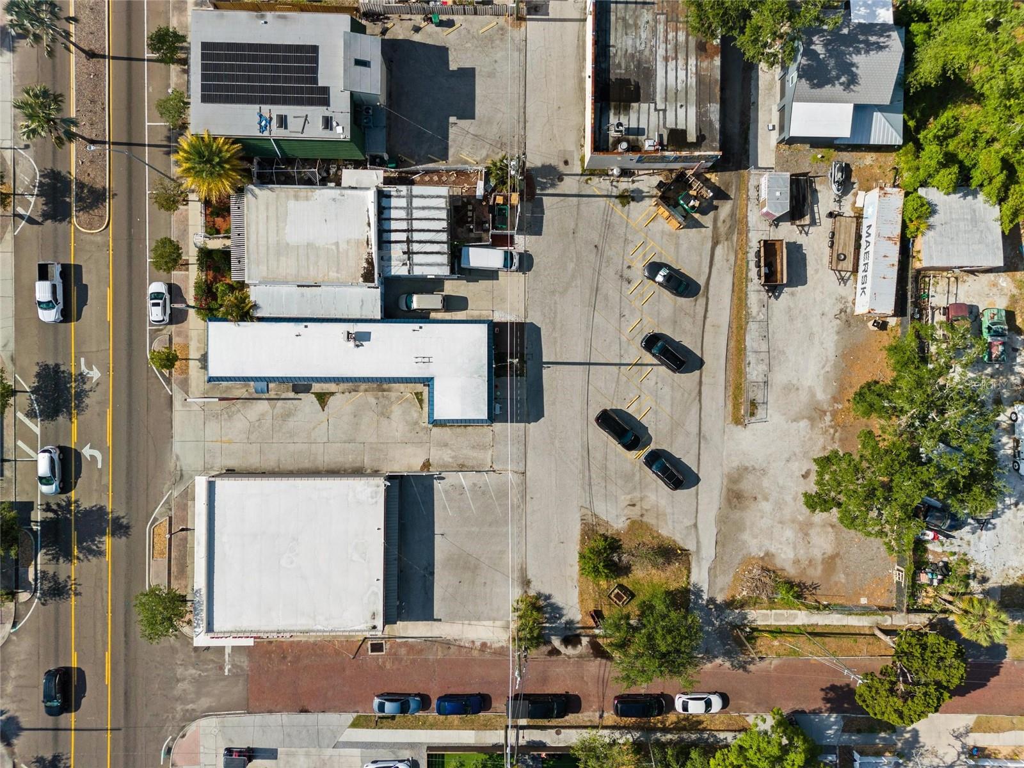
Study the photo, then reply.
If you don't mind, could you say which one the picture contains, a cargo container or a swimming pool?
cargo container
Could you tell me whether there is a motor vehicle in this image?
Yes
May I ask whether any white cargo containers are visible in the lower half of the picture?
No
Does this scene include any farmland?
No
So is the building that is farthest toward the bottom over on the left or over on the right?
left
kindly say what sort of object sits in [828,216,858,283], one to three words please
trailer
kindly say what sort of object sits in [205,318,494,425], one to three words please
building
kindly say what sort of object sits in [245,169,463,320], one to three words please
building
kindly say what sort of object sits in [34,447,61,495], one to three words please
car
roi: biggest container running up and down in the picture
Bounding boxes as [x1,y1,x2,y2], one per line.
[855,187,904,317]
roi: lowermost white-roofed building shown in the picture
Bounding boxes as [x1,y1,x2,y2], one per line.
[194,473,402,645]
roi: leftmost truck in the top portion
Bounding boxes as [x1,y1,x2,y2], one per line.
[34,260,64,321]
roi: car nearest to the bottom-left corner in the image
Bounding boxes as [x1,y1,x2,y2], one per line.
[41,667,69,719]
